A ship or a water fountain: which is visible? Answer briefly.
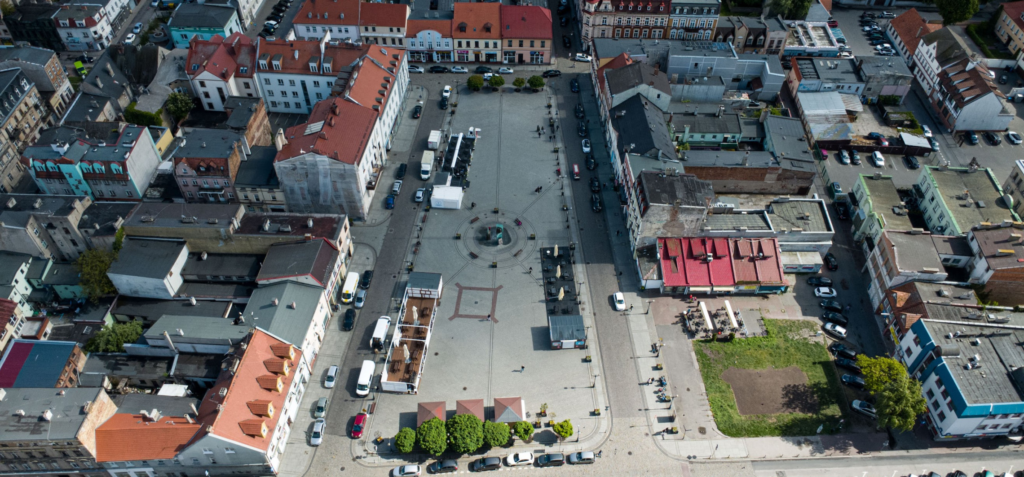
water fountain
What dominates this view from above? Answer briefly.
buildings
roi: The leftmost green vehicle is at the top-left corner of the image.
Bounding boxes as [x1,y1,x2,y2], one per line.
[73,59,86,74]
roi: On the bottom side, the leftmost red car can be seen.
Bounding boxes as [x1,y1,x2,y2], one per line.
[351,413,367,438]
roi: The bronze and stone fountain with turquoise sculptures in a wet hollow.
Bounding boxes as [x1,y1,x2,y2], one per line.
[474,223,513,250]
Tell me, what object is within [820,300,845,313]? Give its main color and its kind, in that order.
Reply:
black vehicle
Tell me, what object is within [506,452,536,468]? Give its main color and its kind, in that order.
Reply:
white car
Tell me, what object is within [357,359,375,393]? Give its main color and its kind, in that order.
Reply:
white vehicle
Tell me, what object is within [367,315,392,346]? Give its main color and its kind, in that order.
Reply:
white vehicle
